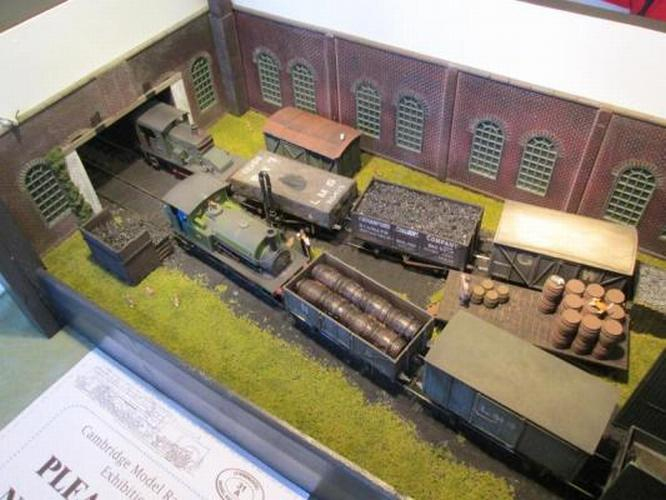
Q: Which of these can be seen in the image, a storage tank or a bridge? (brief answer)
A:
storage tank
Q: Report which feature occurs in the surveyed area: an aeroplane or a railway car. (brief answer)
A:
railway car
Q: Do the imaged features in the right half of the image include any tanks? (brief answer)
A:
No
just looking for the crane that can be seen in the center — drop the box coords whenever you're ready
[260,174,282,233]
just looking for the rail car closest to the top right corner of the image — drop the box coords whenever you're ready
[343,176,487,272]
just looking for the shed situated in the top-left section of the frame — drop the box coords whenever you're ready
[136,86,176,112]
